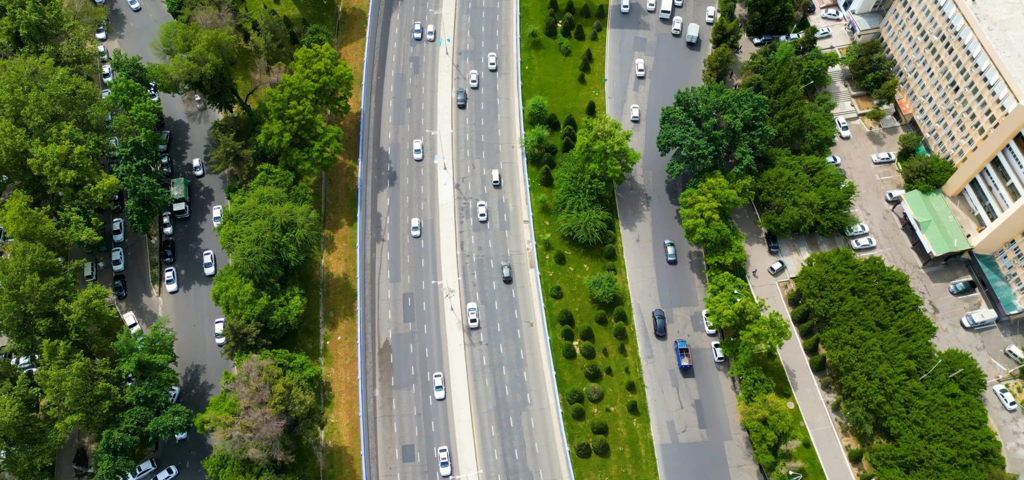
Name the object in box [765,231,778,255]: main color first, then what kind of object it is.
black vehicle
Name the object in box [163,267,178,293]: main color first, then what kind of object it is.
white car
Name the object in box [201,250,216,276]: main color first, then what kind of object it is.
white car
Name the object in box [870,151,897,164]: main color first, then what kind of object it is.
white vehicle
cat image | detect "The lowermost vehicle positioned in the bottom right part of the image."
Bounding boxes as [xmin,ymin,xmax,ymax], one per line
[991,383,1019,413]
